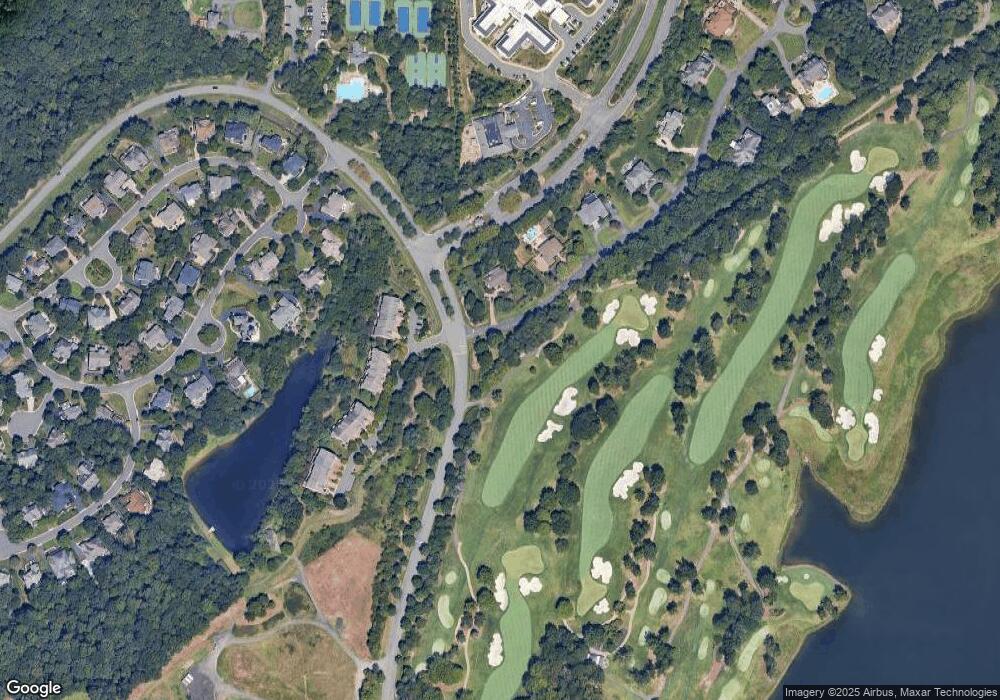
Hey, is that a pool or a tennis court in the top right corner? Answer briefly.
pool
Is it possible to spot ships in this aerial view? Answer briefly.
No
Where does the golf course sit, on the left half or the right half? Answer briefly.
right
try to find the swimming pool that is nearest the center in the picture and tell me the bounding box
[522,226,548,250]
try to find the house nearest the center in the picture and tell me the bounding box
[483,268,510,292]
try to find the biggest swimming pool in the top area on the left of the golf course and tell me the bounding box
[333,72,383,105]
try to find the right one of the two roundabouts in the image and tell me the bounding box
[189,315,227,352]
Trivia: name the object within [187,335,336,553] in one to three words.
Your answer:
pond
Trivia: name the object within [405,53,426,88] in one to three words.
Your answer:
tennis court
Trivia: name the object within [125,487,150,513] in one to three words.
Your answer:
house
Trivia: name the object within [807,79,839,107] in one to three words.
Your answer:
swimming pool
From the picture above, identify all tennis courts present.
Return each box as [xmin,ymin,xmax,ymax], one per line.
[405,53,426,88]
[395,0,413,38]
[414,0,433,38]
[365,0,385,30]
[346,0,365,30]
[427,53,446,88]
